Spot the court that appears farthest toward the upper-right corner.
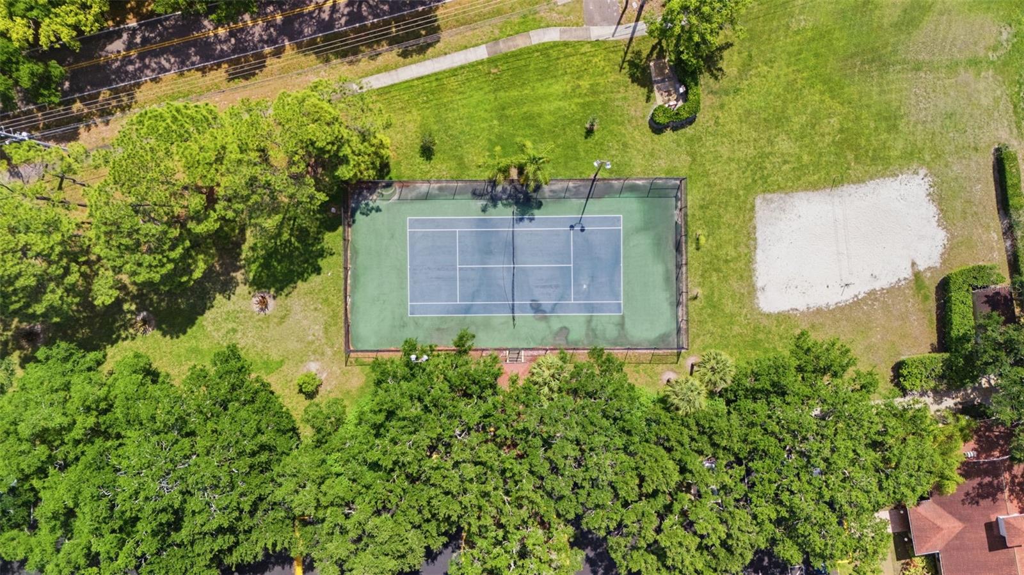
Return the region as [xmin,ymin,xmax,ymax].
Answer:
[753,170,950,313]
